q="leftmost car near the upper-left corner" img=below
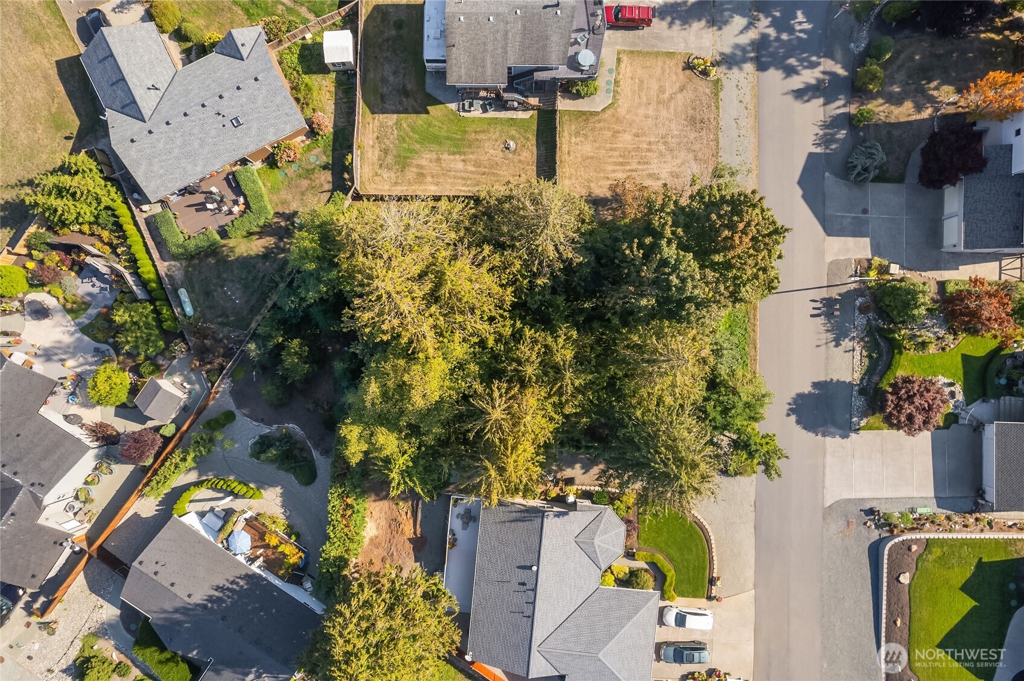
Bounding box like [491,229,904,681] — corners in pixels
[79,4,109,39]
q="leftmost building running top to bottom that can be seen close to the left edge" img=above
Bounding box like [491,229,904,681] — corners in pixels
[0,350,105,590]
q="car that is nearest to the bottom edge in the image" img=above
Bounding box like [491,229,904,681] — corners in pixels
[659,638,709,665]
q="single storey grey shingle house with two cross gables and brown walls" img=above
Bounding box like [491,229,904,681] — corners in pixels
[79,21,310,204]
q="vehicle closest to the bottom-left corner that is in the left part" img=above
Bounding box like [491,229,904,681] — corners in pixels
[0,586,33,629]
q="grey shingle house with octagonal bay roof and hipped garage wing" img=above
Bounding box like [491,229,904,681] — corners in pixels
[465,498,660,681]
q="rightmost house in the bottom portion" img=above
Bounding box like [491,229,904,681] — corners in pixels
[981,421,1024,511]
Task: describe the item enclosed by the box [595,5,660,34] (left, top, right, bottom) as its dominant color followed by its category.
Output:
red truck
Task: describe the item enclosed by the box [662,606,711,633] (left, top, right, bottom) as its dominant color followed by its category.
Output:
white car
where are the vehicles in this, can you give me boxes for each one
[0,586,33,629]
[595,5,660,34]
[662,606,711,633]
[79,4,109,39]
[659,638,709,665]
[425,0,444,72]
